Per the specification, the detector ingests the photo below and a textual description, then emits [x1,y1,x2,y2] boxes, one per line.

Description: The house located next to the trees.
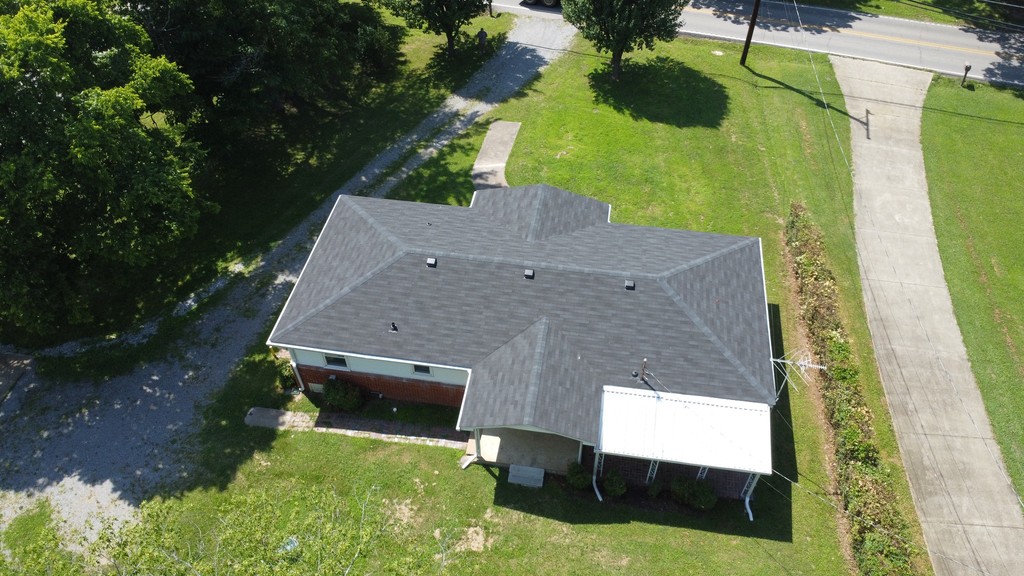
[265,181,778,520]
